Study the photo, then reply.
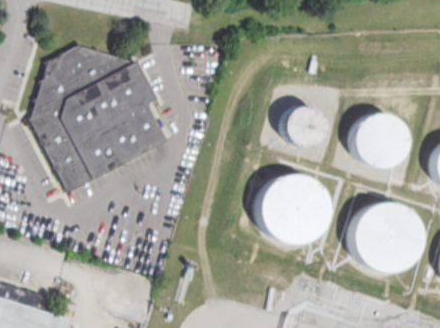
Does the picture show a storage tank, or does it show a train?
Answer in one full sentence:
Visible in the photo is a storage tank.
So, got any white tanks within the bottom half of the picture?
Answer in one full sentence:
Yes, there is a white tank within the bottom half of the picture.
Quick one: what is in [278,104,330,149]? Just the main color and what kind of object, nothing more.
white storage tank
